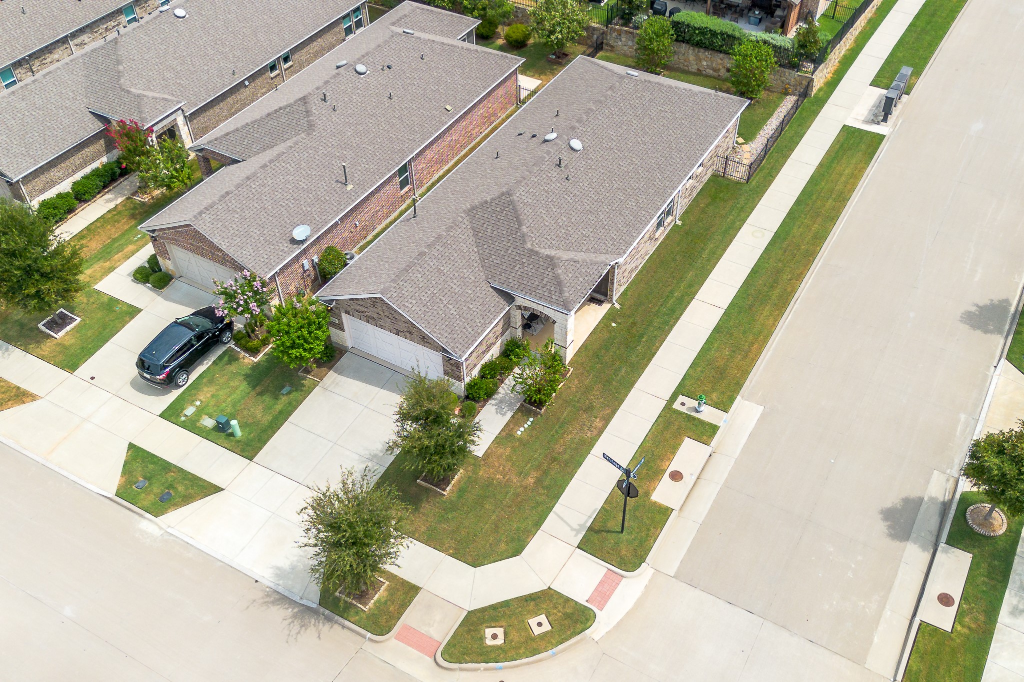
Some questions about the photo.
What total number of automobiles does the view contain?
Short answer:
1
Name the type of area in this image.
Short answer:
residential area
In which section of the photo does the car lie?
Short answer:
left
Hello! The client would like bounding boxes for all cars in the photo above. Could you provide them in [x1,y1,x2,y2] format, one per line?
[129,304,235,389]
